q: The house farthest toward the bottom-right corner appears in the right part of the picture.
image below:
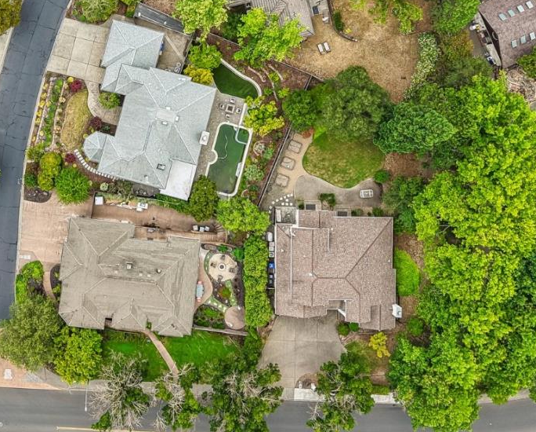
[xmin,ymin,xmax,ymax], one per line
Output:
[270,204,397,334]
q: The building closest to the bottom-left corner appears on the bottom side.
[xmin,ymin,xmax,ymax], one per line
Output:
[57,217,204,339]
